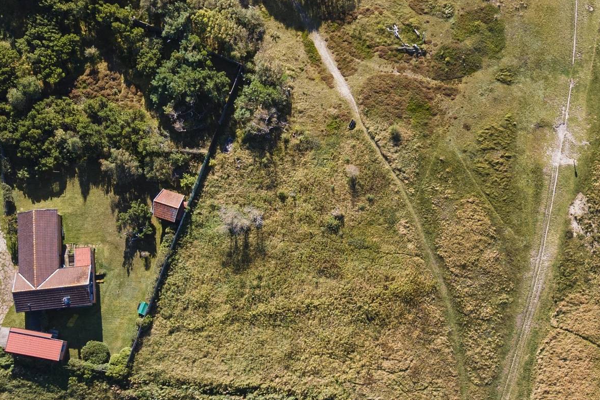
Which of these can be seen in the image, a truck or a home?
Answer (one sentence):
The image shows a home.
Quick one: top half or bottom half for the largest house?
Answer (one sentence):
The bottom half of the photo is where the largest house is.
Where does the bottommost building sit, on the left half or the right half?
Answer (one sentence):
You can find the bottommost building on the left side of the picture.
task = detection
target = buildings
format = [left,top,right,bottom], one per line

[4,327,71,361]
[11,209,100,312]
[153,189,186,222]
